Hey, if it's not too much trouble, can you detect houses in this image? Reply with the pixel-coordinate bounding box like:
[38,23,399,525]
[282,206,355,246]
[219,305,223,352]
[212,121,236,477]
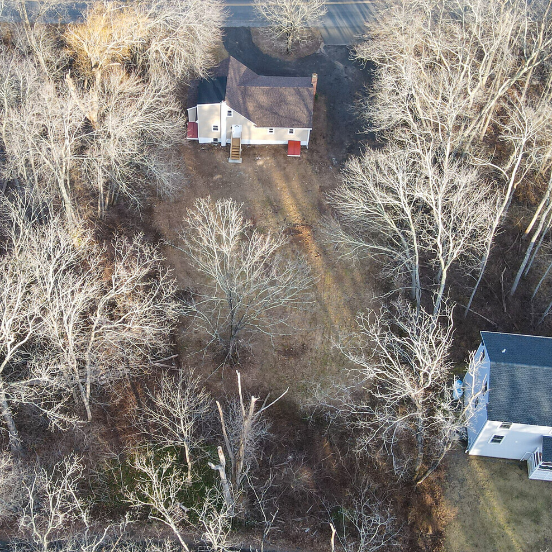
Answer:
[185,53,317,163]
[463,332,552,482]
